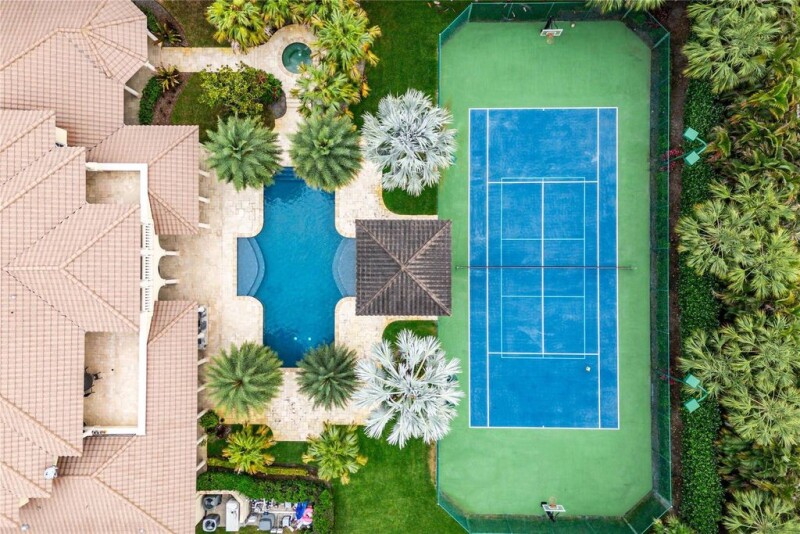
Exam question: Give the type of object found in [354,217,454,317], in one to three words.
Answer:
gazebo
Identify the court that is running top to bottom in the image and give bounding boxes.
[441,23,652,515]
